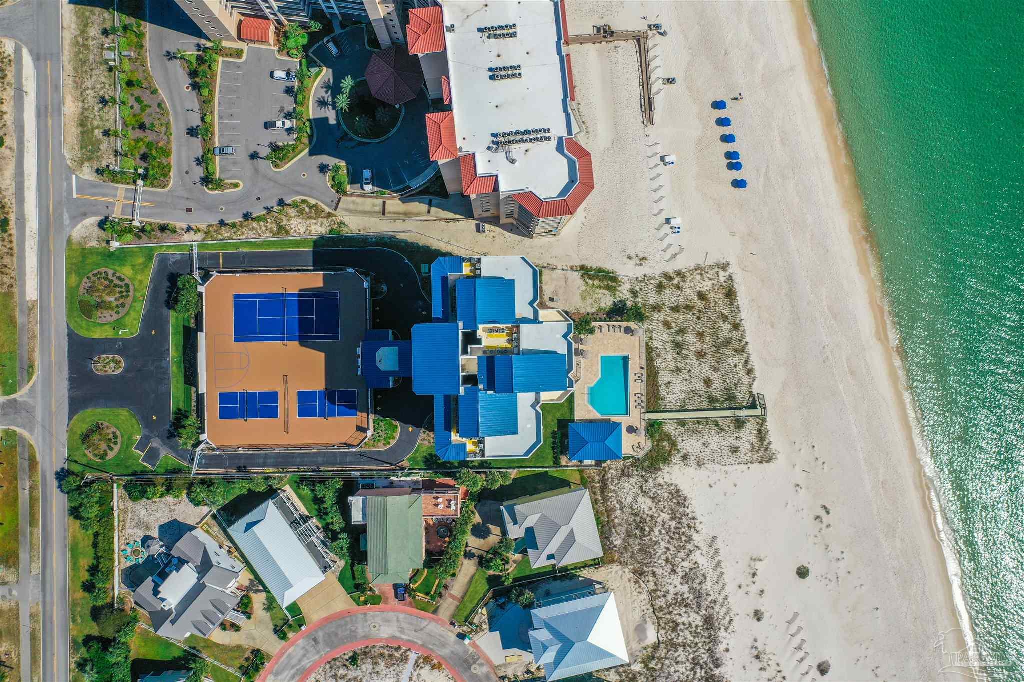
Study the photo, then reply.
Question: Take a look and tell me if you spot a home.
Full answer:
Yes, a home is visible in the scene.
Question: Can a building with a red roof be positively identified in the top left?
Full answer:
Yes, the scene does show a building with a red roof in the top left.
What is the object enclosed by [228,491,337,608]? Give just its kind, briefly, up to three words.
house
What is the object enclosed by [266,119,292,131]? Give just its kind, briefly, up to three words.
vehicle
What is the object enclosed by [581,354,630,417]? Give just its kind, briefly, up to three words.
swimming pool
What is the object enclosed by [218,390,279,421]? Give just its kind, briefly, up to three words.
sports court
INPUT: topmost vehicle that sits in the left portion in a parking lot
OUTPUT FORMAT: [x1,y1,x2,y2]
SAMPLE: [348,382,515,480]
[324,35,341,58]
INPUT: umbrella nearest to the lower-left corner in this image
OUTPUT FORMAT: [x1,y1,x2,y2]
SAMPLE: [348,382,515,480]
[145,539,160,554]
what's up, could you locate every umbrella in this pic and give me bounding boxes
[716,101,726,110]
[732,161,742,170]
[581,335,592,346]
[730,151,740,160]
[633,427,644,438]
[632,326,643,337]
[145,539,160,554]
[721,117,730,127]
[725,134,735,143]
[582,348,593,359]
[737,179,746,189]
